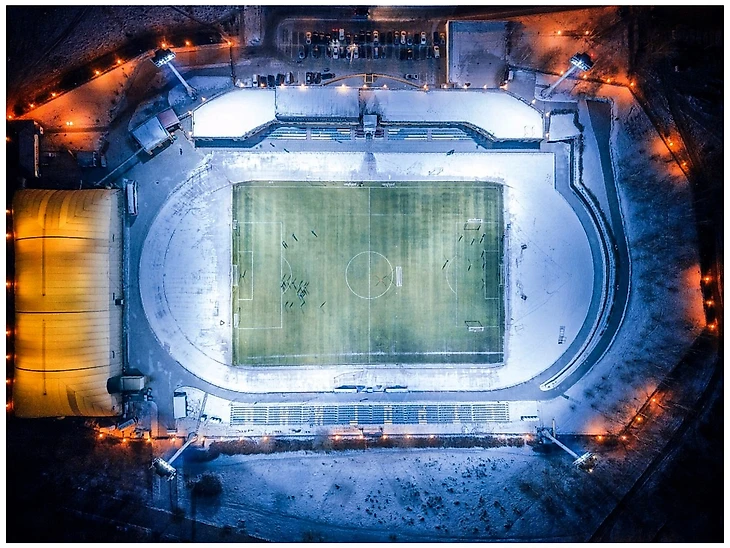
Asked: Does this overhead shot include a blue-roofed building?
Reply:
Yes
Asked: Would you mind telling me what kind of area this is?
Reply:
sports ground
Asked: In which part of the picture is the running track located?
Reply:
center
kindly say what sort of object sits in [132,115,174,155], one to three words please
building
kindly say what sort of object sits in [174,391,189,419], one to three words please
building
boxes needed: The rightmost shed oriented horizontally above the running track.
[452,21,507,34]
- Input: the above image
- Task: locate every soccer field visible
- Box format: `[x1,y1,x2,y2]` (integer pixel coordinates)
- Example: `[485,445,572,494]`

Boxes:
[233,180,504,364]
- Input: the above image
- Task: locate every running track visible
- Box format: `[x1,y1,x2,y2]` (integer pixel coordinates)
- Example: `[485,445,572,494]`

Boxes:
[140,152,595,393]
